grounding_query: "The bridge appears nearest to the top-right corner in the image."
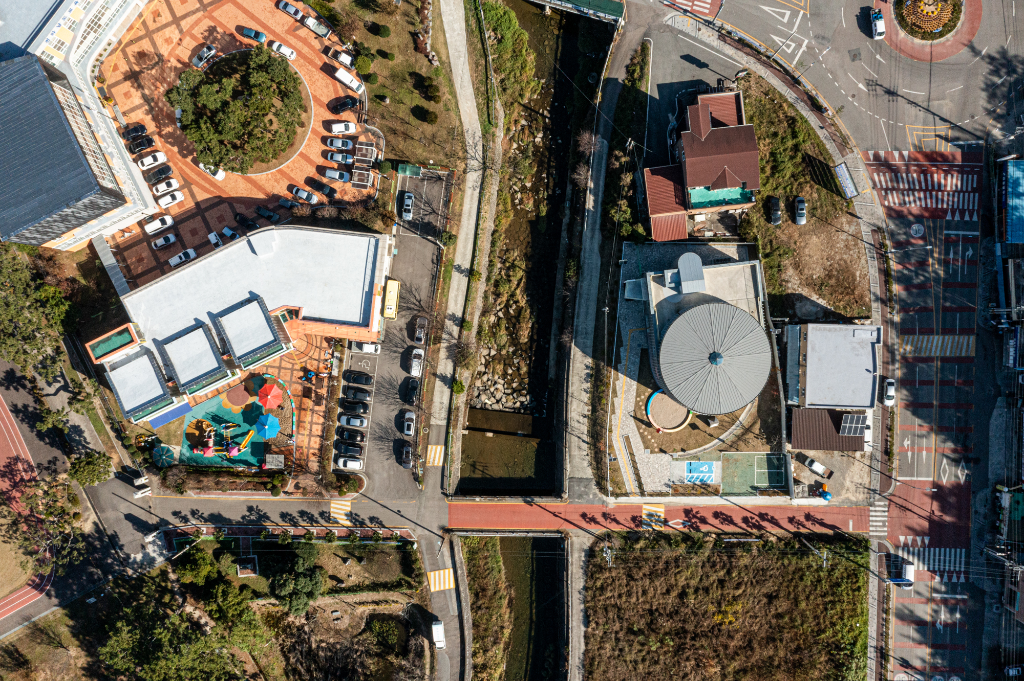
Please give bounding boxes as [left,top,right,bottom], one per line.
[530,0,626,26]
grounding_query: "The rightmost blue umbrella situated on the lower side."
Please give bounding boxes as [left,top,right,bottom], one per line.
[255,412,294,440]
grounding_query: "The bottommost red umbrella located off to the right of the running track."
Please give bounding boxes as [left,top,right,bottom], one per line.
[257,383,283,411]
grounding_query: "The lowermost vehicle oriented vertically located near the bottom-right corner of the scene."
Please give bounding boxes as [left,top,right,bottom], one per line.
[898,553,918,592]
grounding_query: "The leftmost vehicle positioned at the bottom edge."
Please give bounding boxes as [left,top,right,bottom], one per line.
[431,619,445,650]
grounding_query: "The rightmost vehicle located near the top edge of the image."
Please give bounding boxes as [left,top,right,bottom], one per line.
[870,9,888,41]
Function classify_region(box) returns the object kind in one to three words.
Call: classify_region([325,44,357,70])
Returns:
truck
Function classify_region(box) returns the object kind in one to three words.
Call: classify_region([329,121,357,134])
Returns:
vehicle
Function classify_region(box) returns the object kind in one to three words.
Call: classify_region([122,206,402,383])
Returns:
building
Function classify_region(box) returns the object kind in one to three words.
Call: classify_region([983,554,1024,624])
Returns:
house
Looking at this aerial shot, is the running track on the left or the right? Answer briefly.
left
